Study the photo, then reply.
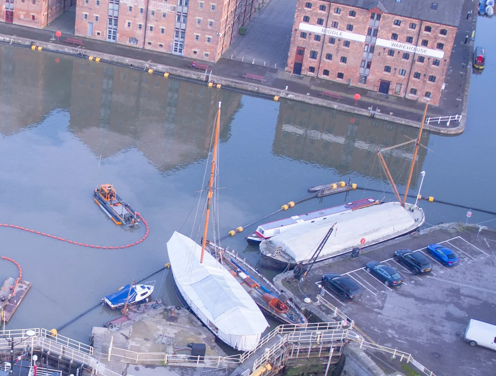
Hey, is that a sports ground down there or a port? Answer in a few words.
port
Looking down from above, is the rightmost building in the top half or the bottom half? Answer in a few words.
top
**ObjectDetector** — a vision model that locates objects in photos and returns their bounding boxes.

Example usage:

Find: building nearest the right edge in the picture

[285,0,471,106]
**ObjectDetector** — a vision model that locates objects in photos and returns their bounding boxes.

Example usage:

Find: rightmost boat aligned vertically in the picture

[473,43,486,71]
